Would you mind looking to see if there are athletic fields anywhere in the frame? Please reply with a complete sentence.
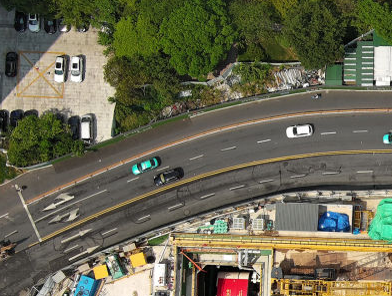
No, there appears to be no athletic field in this shot.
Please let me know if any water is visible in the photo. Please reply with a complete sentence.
No, water can't be seen anywhere here.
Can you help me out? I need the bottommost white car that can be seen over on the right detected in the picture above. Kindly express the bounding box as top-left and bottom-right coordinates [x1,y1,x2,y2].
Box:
[284,123,313,137]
